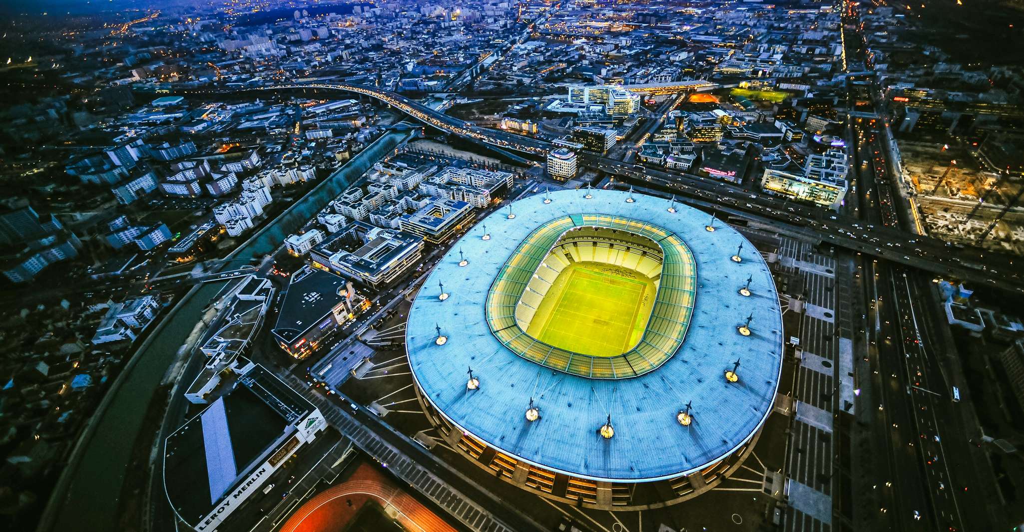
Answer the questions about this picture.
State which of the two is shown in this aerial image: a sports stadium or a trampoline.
sports stadium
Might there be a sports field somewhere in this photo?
Yes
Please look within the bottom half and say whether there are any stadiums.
Yes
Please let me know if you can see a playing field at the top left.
No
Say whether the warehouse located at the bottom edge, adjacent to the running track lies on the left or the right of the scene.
left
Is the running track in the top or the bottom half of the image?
bottom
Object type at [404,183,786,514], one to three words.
stadium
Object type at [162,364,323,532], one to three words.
warehouse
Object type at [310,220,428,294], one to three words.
building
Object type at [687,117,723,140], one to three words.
building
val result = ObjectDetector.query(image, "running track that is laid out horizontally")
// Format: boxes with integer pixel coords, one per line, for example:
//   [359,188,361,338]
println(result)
[273,474,461,532]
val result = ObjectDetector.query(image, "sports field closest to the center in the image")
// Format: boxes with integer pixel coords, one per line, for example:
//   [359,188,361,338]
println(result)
[538,271,644,359]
